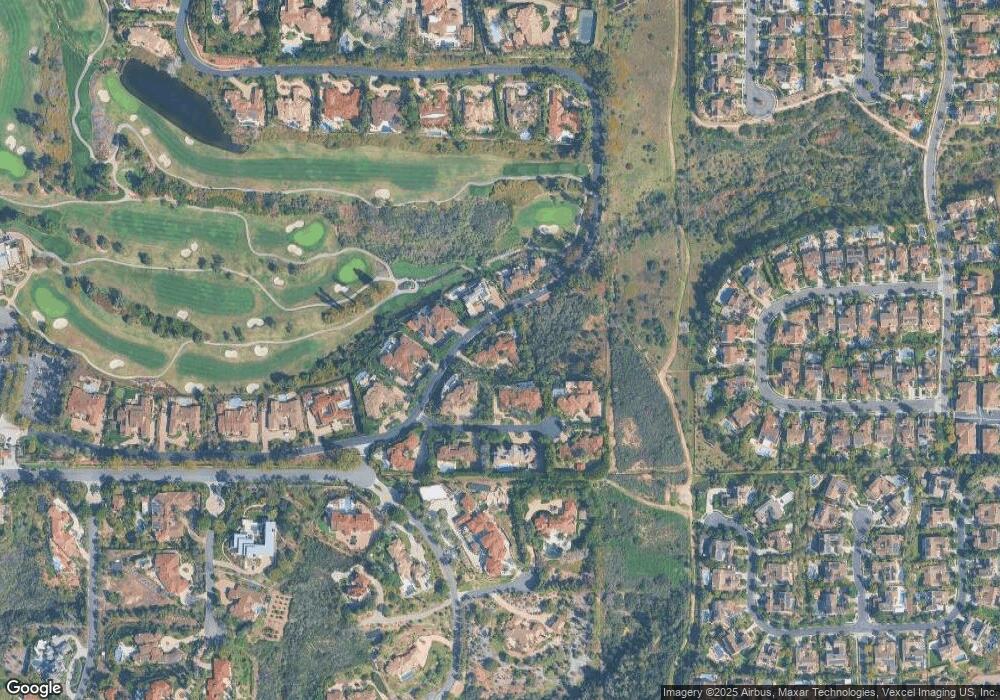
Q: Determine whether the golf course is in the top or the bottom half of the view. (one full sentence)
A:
You can find the golf course in the top half.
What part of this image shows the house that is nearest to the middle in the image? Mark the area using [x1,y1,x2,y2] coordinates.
[472,333,520,369]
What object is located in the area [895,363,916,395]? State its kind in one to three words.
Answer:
house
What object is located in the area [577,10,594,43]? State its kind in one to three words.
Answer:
tennis court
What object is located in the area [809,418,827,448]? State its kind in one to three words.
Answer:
house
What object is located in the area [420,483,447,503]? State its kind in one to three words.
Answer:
building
